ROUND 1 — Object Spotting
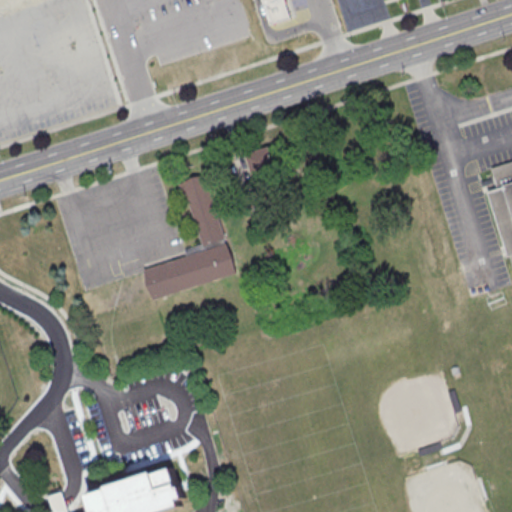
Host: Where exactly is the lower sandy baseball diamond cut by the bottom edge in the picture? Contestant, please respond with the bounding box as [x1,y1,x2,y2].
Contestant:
[405,460,490,512]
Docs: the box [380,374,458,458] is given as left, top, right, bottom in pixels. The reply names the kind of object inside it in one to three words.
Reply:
baseball field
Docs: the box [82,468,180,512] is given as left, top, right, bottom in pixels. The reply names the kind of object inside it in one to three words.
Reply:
building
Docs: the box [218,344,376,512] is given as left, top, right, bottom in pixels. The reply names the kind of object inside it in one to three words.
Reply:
sports field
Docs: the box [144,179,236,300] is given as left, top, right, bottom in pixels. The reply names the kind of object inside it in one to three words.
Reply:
building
